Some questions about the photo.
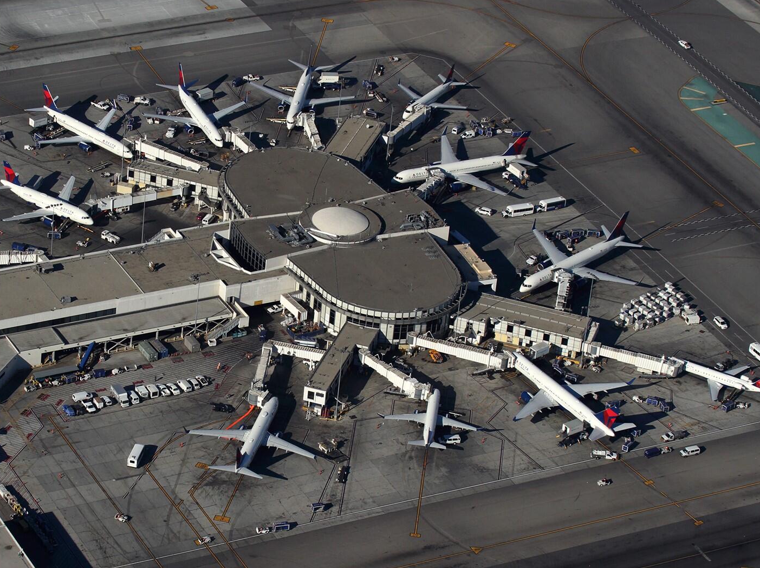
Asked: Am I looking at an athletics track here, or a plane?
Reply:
plane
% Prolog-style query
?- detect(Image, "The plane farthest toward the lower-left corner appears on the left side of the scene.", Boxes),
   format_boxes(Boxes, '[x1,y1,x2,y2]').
[189,398,321,475]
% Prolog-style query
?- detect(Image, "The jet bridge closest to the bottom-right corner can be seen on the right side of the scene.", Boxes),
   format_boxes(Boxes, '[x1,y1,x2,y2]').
[589,344,683,379]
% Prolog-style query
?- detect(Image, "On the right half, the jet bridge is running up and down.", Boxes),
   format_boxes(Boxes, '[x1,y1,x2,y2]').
[553,271,572,313]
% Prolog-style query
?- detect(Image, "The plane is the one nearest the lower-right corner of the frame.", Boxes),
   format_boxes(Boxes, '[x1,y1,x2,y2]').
[659,355,760,398]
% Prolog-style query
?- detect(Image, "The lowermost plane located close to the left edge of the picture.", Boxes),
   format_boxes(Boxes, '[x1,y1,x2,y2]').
[0,162,95,230]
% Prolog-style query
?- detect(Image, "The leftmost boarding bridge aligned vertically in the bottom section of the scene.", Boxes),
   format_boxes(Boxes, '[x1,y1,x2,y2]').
[253,344,273,407]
